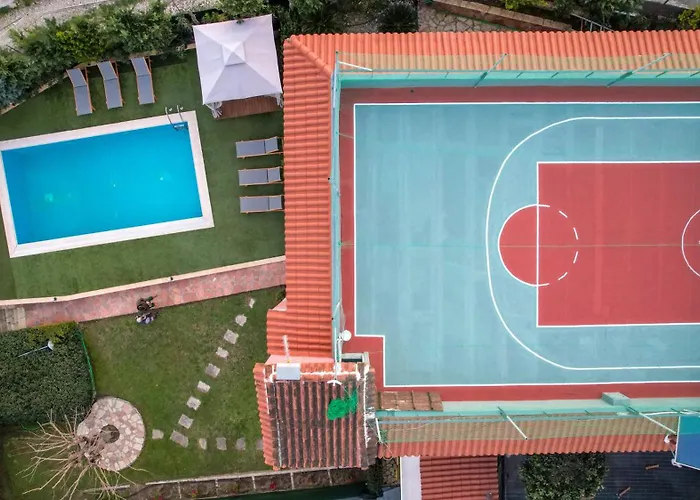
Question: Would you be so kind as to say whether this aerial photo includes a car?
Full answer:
No, the frame has no car in it.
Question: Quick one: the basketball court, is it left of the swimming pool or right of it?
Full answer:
From the viewer's perspective, the basketball court falls to the right of the swimming pool.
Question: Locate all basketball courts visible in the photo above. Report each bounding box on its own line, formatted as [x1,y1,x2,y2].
[340,88,700,401]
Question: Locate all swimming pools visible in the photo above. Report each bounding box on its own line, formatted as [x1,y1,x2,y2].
[0,103,213,257]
